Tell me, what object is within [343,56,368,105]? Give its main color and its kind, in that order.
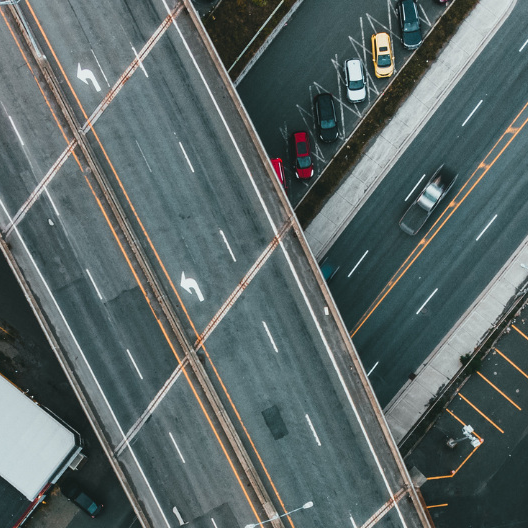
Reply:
white car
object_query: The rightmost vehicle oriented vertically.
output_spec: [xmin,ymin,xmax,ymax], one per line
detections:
[396,0,424,52]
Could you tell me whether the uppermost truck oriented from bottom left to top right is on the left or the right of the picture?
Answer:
right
